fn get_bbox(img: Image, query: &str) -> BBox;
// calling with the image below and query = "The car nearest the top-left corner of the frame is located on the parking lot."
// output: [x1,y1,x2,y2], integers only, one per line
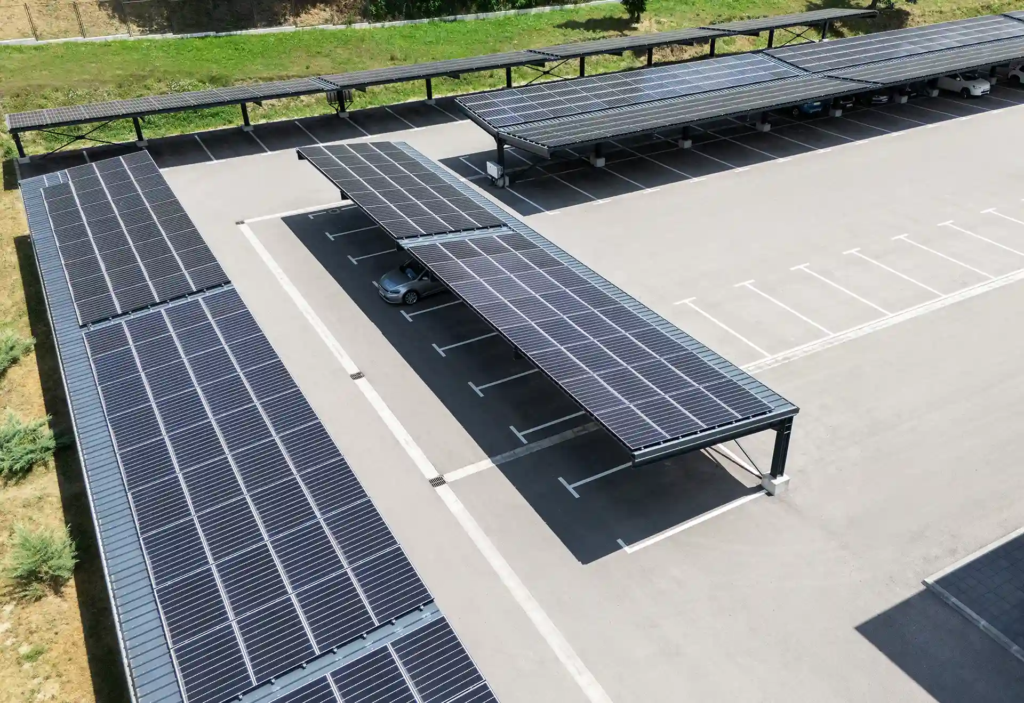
[375,257,448,307]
